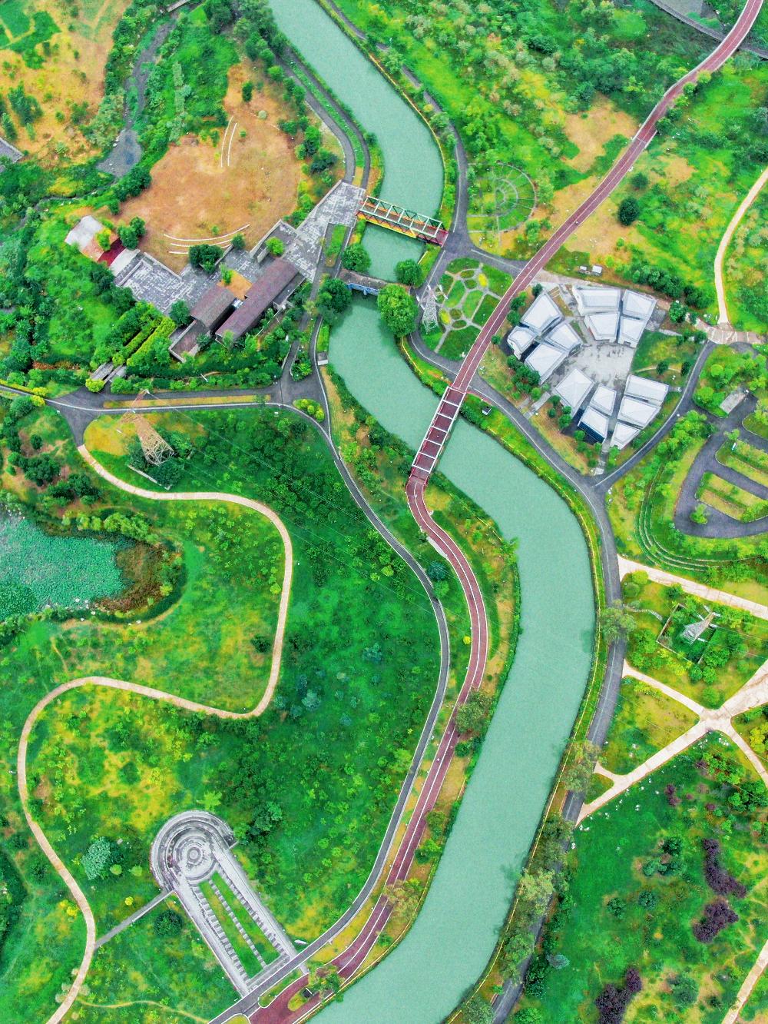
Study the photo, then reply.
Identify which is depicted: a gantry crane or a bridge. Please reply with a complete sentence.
It is a bridge that can be seen here.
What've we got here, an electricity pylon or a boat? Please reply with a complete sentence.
The one in the frame is an electricity pylon.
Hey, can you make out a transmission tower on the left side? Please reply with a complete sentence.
Yes, a transmission tower can be seen on the left side.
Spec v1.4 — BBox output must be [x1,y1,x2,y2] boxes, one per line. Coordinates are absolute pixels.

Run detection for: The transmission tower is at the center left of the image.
[122,397,175,468]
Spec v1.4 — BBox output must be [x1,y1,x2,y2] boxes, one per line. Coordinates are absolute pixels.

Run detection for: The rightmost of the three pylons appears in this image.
[682,603,722,644]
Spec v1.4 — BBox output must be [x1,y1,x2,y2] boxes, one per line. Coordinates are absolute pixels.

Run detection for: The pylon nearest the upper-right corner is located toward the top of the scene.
[418,286,447,333]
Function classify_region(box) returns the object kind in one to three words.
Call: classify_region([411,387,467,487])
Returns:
bridge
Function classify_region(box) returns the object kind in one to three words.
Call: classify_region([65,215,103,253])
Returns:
shed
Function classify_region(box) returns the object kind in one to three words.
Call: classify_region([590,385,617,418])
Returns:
building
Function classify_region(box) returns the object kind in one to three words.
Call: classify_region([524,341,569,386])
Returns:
building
